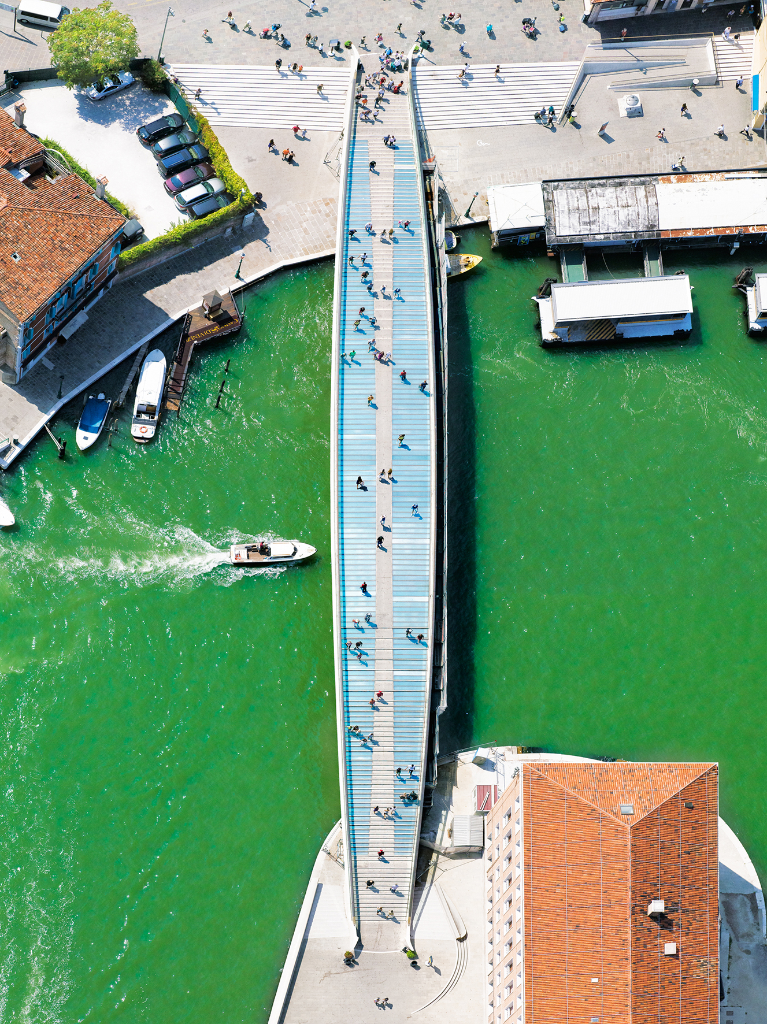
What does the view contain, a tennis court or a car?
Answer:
car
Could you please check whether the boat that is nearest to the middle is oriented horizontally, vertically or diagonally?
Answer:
horizontally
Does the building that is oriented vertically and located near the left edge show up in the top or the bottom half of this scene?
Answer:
top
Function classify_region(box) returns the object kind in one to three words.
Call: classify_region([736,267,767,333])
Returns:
pier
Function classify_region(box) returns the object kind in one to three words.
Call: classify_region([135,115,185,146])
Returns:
car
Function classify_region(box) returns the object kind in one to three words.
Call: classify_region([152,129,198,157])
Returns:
car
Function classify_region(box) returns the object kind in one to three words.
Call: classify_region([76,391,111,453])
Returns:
boat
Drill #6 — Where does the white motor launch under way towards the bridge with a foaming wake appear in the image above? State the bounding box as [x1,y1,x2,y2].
[229,541,319,566]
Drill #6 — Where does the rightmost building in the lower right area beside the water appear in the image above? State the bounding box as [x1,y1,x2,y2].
[491,761,722,1024]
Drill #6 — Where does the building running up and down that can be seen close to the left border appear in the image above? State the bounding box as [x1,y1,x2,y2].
[0,98,128,388]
